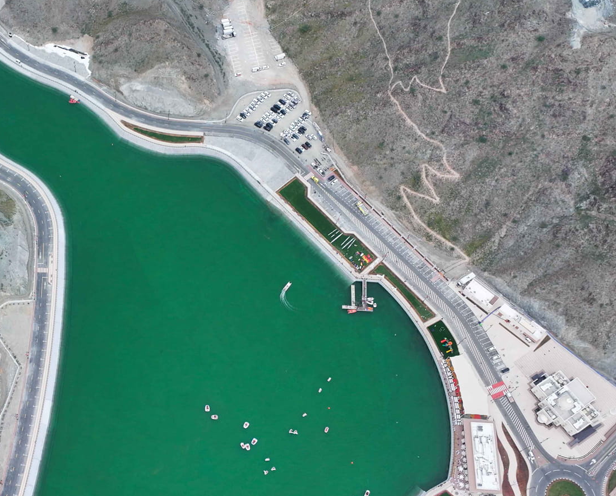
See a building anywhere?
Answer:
Yes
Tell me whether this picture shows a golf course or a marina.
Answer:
marina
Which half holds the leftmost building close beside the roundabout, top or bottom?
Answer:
bottom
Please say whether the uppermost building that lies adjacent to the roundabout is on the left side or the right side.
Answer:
right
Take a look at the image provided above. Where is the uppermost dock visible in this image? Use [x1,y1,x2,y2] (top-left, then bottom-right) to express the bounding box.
[342,280,373,312]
